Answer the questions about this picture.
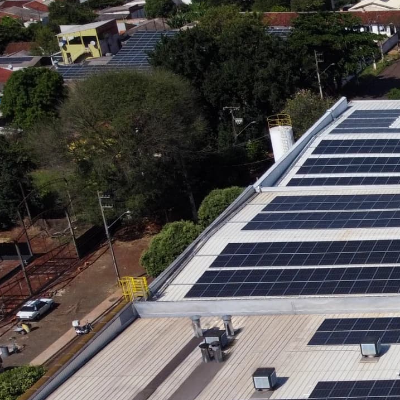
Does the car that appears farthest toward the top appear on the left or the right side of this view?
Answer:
left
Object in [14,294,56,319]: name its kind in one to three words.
car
